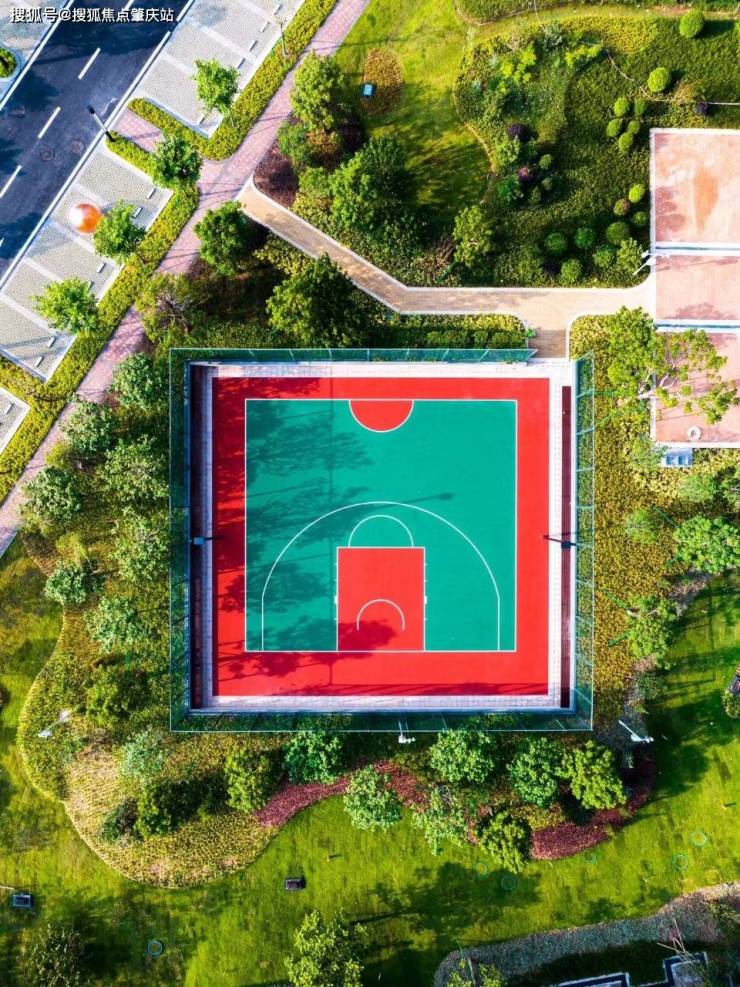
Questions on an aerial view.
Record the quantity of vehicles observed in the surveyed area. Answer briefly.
zero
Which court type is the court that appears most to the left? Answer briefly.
basketball court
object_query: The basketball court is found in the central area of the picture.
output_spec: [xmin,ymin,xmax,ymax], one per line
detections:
[213,378,549,697]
